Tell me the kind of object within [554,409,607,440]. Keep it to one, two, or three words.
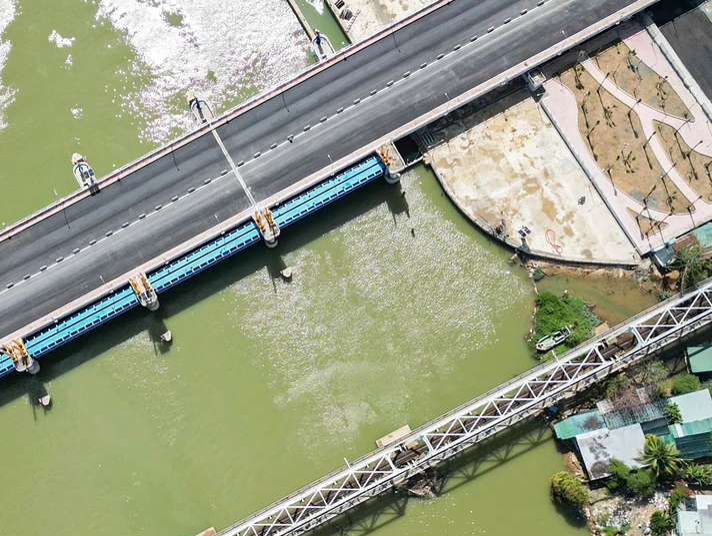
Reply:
house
